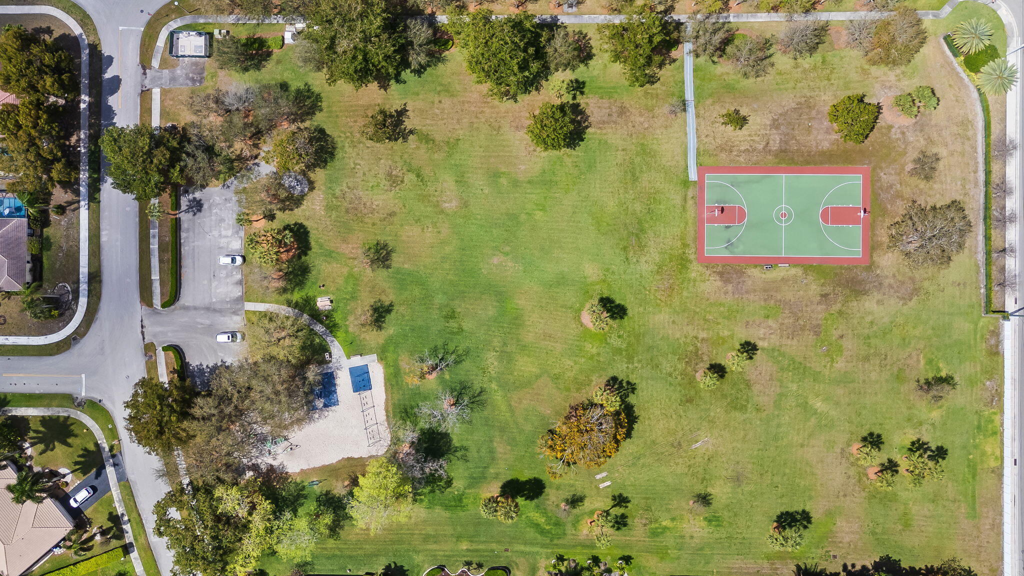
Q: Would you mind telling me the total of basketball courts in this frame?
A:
1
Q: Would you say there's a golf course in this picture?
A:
No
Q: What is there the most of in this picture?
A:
grass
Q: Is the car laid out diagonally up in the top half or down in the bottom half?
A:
bottom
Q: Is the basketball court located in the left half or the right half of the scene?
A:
right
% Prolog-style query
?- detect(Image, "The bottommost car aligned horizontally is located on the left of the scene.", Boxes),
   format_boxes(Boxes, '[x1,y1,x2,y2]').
[215,332,243,344]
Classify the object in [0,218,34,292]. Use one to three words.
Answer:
house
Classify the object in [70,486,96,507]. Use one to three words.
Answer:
car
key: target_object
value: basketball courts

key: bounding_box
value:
[698,166,871,264]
